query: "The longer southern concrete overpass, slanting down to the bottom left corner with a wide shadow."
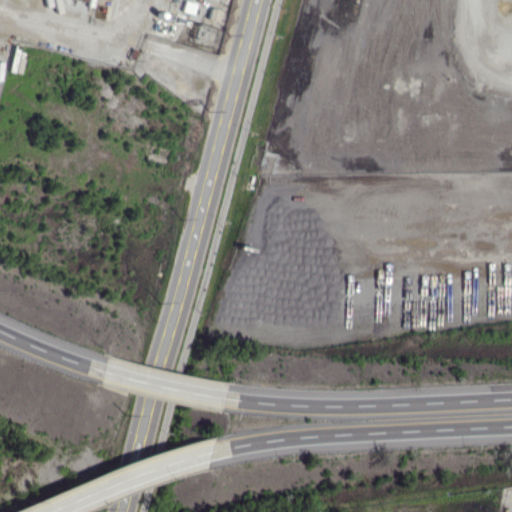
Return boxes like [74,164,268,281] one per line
[22,437,218,512]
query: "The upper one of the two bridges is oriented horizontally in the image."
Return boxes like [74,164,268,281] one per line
[100,358,233,415]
